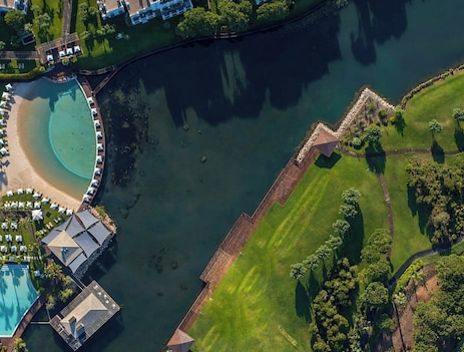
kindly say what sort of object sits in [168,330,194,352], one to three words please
gazebo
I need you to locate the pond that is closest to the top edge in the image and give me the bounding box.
[0,77,98,212]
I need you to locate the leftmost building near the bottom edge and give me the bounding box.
[51,281,120,350]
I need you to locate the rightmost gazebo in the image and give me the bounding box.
[313,131,338,156]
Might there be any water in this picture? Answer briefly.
Yes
